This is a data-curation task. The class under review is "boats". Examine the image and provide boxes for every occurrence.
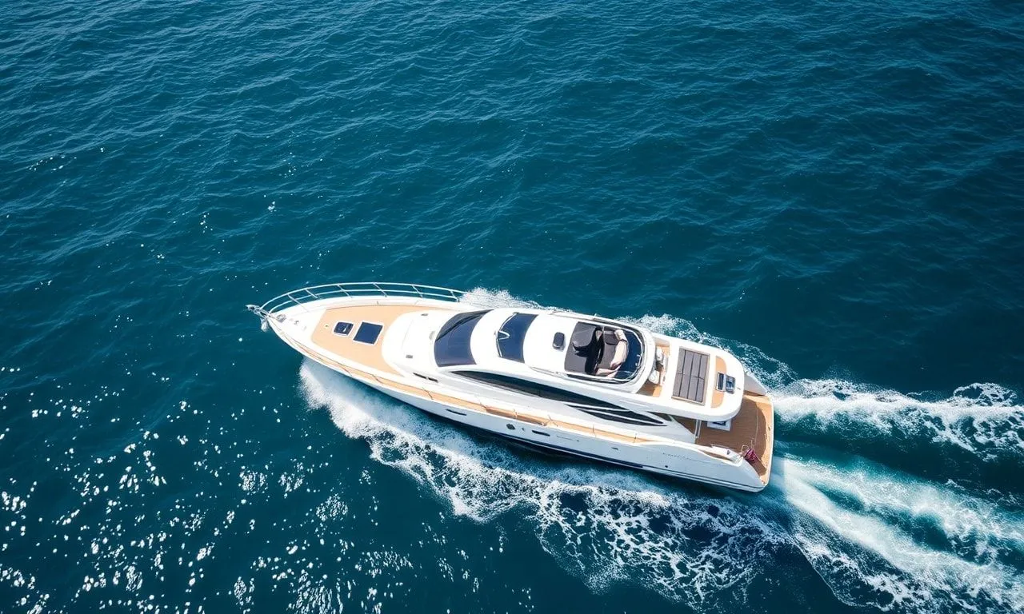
[246,285,774,493]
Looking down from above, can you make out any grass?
No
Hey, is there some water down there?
Yes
